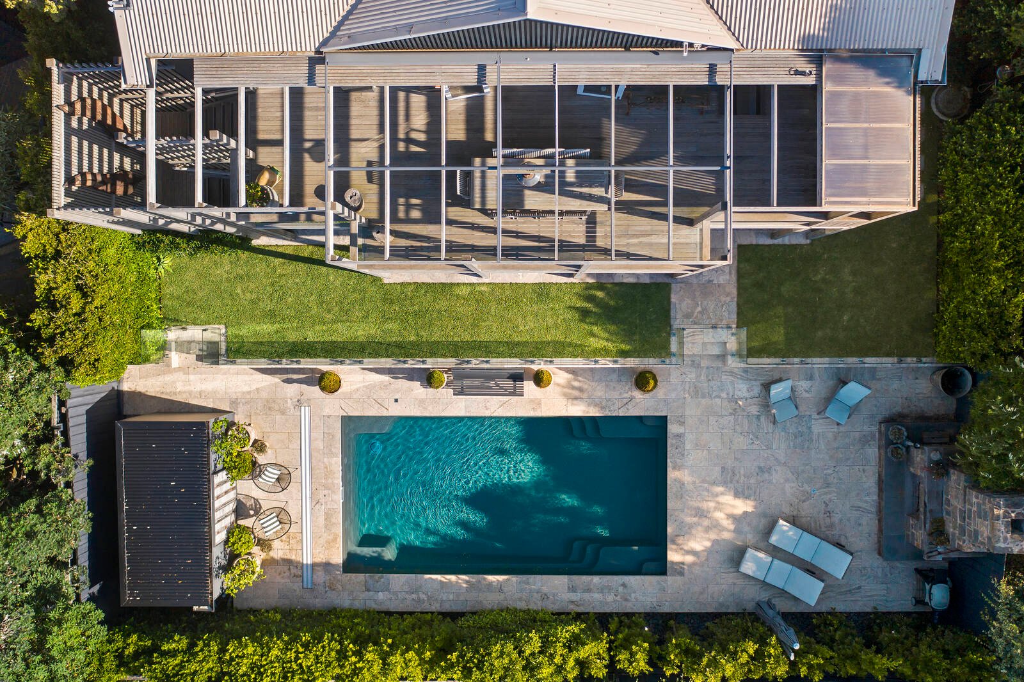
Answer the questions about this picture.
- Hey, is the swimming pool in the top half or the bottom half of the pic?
bottom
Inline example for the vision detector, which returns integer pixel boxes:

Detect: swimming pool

[339,417,667,574]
